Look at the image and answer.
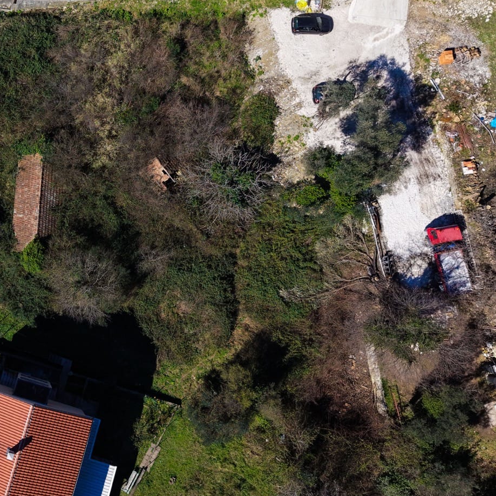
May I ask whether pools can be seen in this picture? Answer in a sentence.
No, the scene contains no pool.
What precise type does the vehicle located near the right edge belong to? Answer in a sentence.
I'd say the vehicle located near the right edge is a truck.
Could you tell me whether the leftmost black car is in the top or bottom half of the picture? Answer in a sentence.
Seen from above, the leftmost black car lies in the top half of the view.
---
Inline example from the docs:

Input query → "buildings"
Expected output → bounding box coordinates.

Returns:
[12,155,55,247]
[0,376,117,496]
[145,154,184,192]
